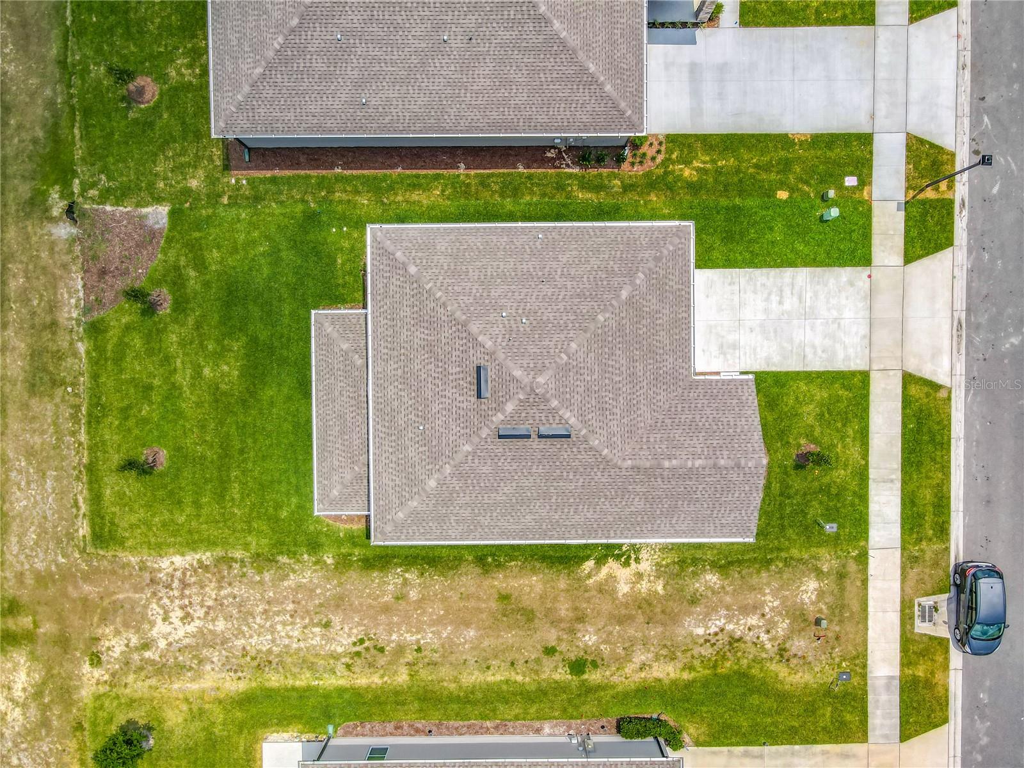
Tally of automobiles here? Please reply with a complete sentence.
Only 1 automobile is visible.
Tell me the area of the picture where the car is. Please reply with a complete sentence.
The car is in the bottom right part of the image.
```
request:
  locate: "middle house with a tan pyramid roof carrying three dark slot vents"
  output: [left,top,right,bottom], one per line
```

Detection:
[311,222,768,545]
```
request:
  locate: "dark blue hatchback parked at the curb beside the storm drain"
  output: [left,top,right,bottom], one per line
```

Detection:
[953,561,1007,654]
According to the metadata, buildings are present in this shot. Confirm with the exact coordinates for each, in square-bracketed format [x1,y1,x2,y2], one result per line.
[311,222,768,545]
[300,735,683,768]
[209,0,647,150]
